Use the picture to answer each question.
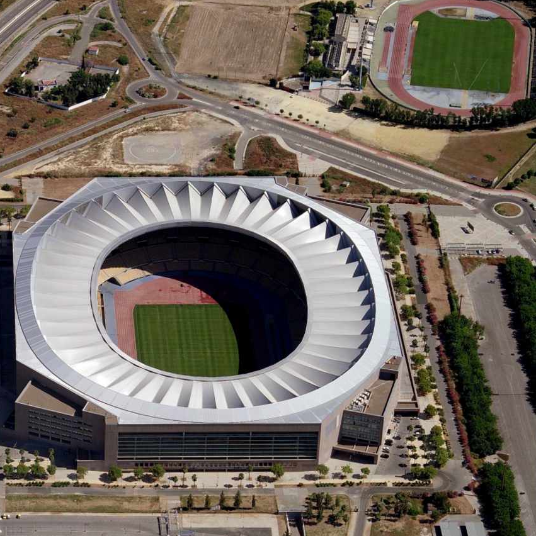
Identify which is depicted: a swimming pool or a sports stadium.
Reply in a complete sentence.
This aerial view contains a sports stadium.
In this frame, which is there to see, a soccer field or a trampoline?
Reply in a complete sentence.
It is a soccer field that can be seen here.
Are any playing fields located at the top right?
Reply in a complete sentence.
Yes, a playing field shows up at the top right.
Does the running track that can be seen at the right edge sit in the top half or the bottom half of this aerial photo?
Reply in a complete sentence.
The running track that can be seen at the right edge sits in the top half of the picture.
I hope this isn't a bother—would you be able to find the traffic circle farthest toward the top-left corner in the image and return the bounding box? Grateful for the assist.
[123,76,176,104]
